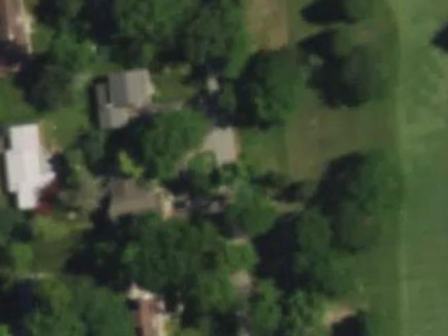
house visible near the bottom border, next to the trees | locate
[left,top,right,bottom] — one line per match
[128,285,166,336]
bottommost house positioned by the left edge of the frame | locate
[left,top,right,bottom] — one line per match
[5,123,57,210]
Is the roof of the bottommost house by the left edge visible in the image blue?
No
